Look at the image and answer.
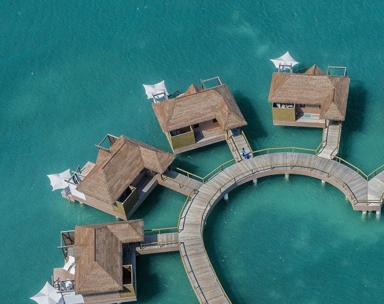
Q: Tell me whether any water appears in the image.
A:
Yes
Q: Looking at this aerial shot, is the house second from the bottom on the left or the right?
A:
left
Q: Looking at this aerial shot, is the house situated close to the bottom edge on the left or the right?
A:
left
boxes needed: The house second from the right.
[154,75,243,154]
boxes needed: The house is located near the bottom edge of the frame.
[52,217,146,304]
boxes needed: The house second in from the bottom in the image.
[64,131,178,220]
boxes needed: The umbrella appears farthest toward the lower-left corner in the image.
[30,281,64,304]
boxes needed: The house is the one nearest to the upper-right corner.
[267,60,348,134]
